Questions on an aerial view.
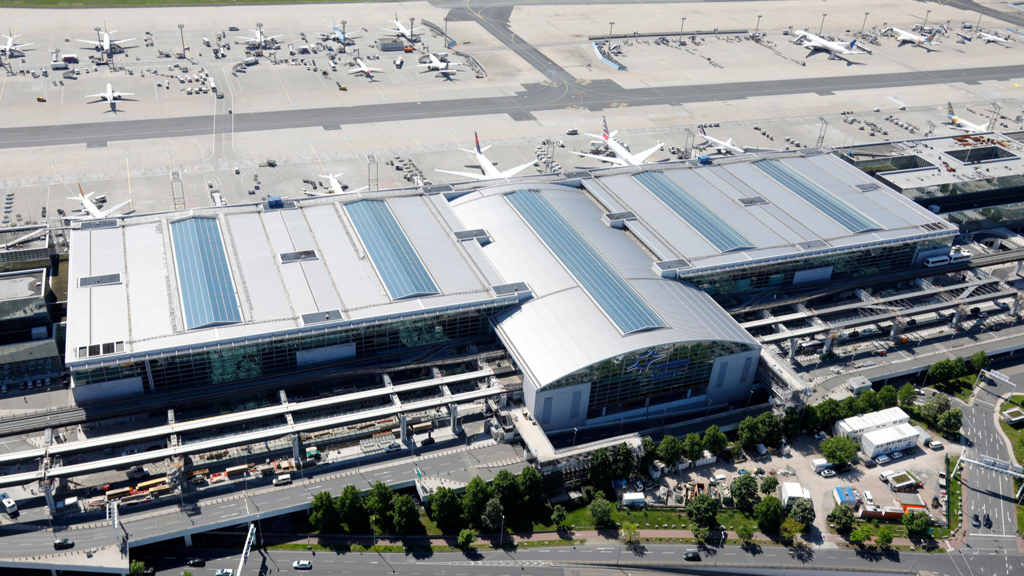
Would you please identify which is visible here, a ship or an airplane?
airplane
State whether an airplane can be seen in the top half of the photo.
Yes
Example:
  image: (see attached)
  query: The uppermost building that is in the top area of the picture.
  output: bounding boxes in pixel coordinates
[374,31,405,50]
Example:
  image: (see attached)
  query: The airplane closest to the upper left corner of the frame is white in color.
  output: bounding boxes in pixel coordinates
[0,19,41,58]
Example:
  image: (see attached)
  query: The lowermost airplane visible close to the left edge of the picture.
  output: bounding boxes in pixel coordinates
[42,175,137,219]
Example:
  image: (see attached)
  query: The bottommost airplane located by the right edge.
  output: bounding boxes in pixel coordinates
[944,100,1012,138]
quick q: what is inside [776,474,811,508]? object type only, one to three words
building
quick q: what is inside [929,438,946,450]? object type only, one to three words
vehicle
